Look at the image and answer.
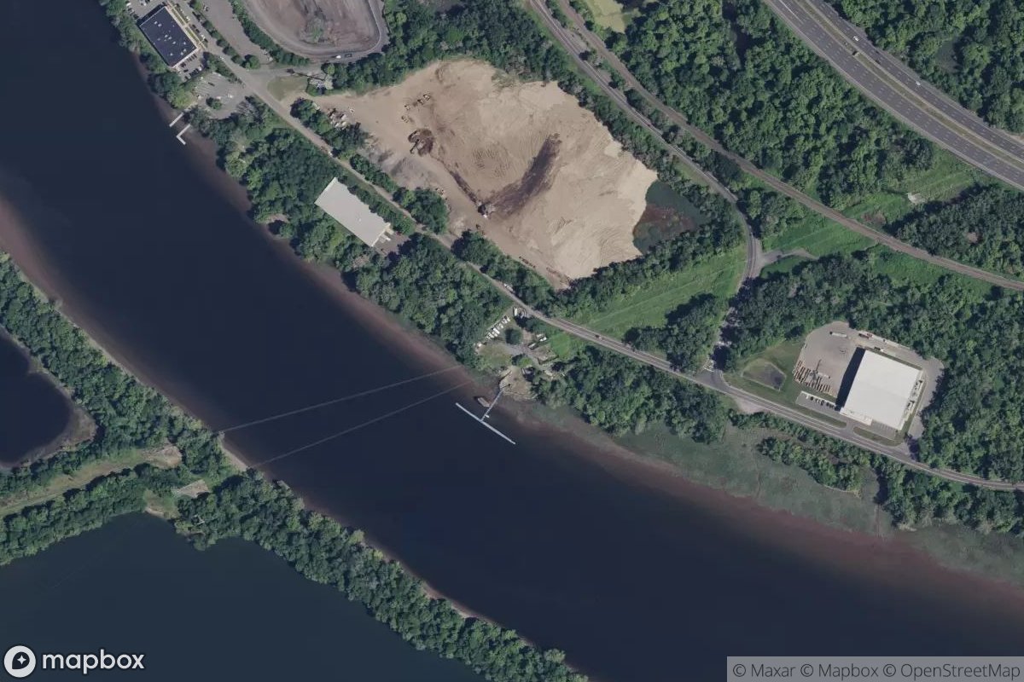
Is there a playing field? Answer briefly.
No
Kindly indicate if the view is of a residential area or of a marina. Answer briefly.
marina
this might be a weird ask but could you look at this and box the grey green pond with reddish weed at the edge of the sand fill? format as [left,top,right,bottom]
[633,176,714,255]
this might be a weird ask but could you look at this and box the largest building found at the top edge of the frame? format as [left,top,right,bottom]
[140,7,198,66]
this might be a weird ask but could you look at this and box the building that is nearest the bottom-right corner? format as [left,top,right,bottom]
[839,350,923,430]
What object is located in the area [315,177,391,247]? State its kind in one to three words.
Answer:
building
